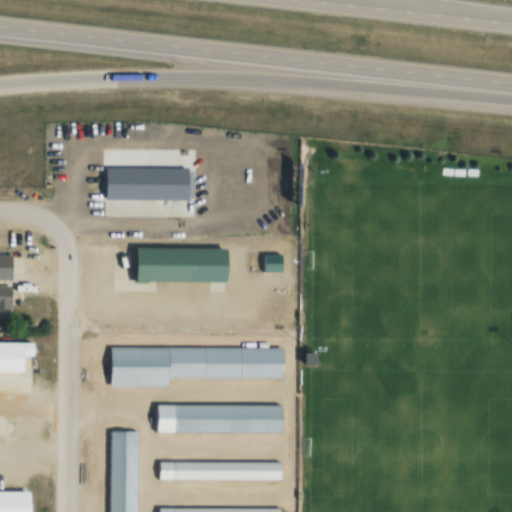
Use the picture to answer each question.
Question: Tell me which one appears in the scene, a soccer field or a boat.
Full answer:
The image shows a soccer field.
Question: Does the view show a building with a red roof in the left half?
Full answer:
No, the scene shows no building with a red roof in the left half.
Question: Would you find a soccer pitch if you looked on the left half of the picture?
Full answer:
No, I see no soccer pitch on the left half of the picture.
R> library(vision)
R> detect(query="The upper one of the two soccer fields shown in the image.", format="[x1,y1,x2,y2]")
[308,181,512,341]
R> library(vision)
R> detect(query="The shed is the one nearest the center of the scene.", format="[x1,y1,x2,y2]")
[264,254,284,272]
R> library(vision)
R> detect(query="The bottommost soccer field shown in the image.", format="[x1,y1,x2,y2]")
[308,368,512,512]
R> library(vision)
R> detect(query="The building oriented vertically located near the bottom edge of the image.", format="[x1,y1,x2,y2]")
[111,431,140,512]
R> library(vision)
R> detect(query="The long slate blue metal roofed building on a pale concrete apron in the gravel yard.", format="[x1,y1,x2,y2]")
[107,168,190,200]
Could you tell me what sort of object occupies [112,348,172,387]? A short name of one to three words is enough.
building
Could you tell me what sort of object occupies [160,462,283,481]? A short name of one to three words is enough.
building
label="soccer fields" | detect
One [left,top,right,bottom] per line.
[308,181,512,341]
[308,368,512,512]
